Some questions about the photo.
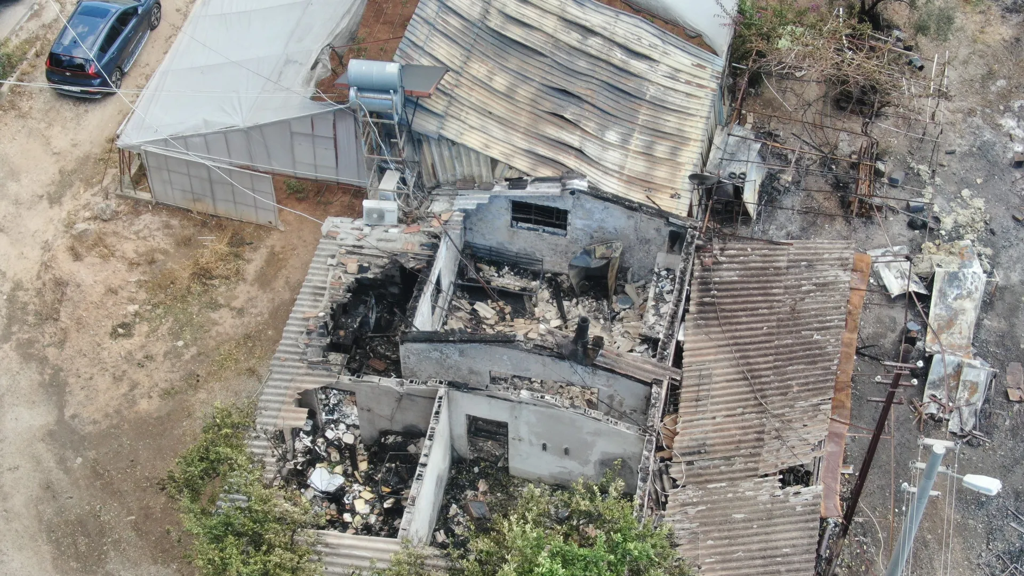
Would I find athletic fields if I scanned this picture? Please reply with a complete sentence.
No, I find no athletic field anywhere in the image.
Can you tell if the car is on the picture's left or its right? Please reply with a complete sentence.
It is on the left.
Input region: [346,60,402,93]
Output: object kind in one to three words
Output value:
storage tank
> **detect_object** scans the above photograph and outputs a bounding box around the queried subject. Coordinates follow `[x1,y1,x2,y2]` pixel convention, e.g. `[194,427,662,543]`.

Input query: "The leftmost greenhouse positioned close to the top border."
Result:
[100,0,401,229]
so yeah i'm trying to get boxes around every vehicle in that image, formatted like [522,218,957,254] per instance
[43,0,163,100]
